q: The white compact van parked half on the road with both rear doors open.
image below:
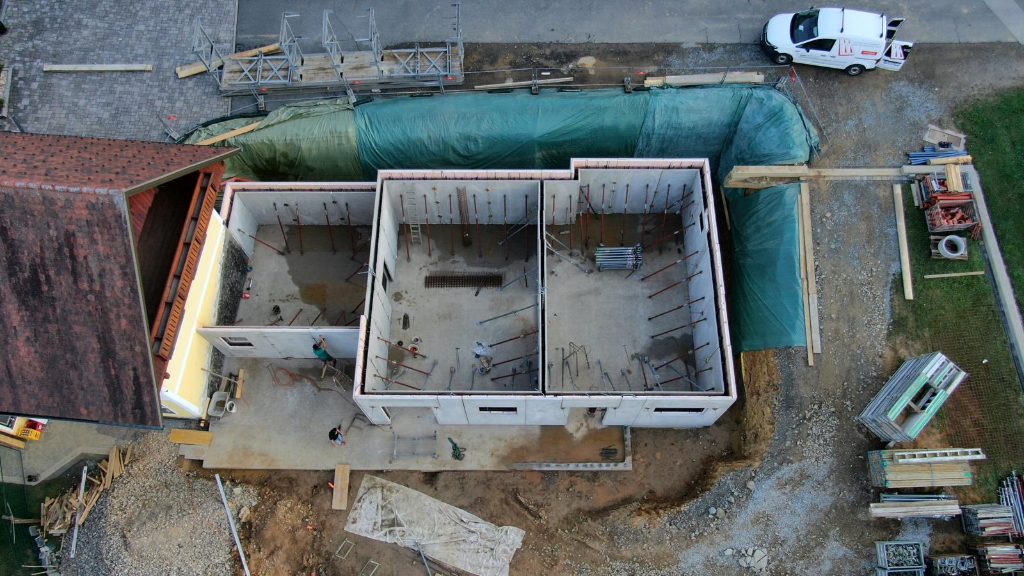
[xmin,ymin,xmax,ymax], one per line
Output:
[756,2,913,77]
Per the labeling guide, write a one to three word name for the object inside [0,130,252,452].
house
